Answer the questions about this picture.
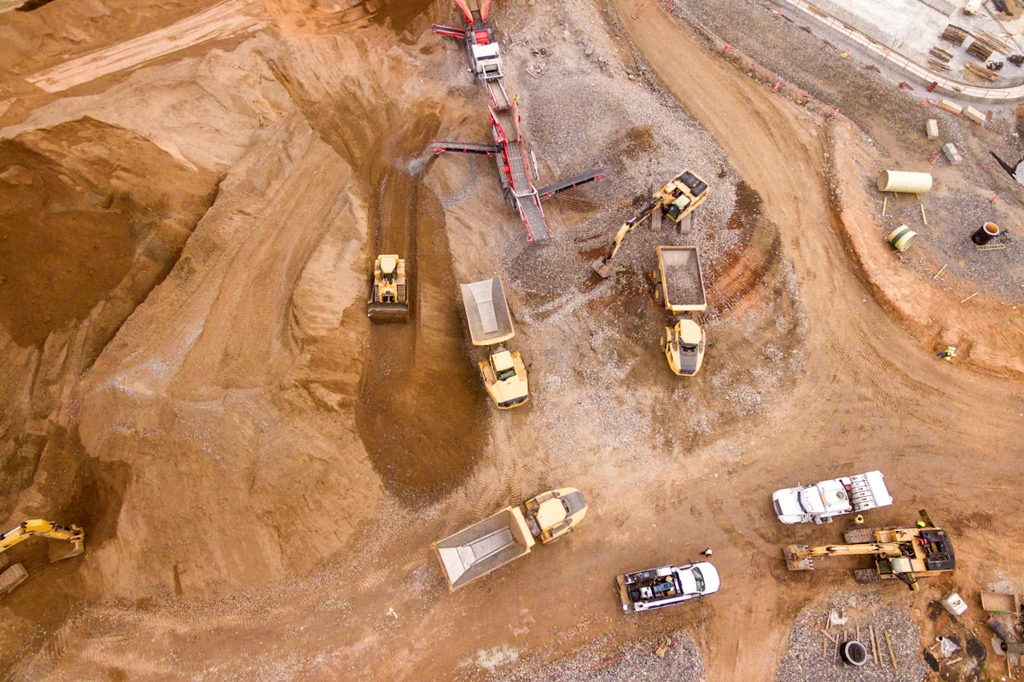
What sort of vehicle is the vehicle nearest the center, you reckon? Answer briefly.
truck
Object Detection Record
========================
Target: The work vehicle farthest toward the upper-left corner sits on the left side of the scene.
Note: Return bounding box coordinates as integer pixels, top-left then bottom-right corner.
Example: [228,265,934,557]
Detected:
[363,254,413,324]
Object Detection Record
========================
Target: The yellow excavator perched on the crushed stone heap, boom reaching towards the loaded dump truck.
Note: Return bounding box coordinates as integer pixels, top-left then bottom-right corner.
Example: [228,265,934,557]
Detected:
[589,171,710,275]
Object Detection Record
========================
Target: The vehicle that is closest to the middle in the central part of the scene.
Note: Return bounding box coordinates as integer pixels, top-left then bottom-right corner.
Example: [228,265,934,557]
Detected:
[464,273,533,411]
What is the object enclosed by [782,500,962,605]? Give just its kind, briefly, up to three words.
work vehicle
